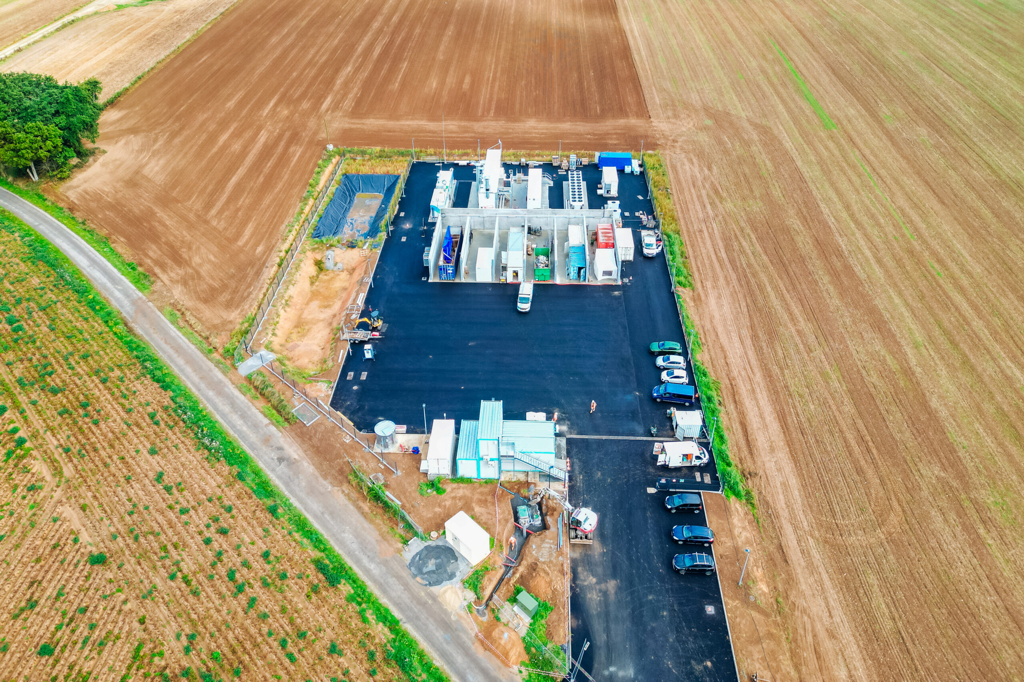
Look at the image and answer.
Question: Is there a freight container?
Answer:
Yes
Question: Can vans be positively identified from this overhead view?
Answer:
Yes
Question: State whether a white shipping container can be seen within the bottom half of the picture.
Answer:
Yes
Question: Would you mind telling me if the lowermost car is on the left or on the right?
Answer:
right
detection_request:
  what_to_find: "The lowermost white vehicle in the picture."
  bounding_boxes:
[527,486,597,539]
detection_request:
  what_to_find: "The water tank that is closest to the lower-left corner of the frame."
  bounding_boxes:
[376,420,401,454]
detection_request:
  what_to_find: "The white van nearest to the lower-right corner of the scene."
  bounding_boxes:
[653,435,706,463]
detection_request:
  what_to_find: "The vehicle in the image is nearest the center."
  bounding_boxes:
[517,285,533,313]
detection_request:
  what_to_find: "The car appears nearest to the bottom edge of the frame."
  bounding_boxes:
[671,548,718,574]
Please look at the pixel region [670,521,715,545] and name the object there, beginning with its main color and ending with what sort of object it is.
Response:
blue car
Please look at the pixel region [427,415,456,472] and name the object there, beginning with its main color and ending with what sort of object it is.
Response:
white shipping container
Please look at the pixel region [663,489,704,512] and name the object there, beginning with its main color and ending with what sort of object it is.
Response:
blue car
